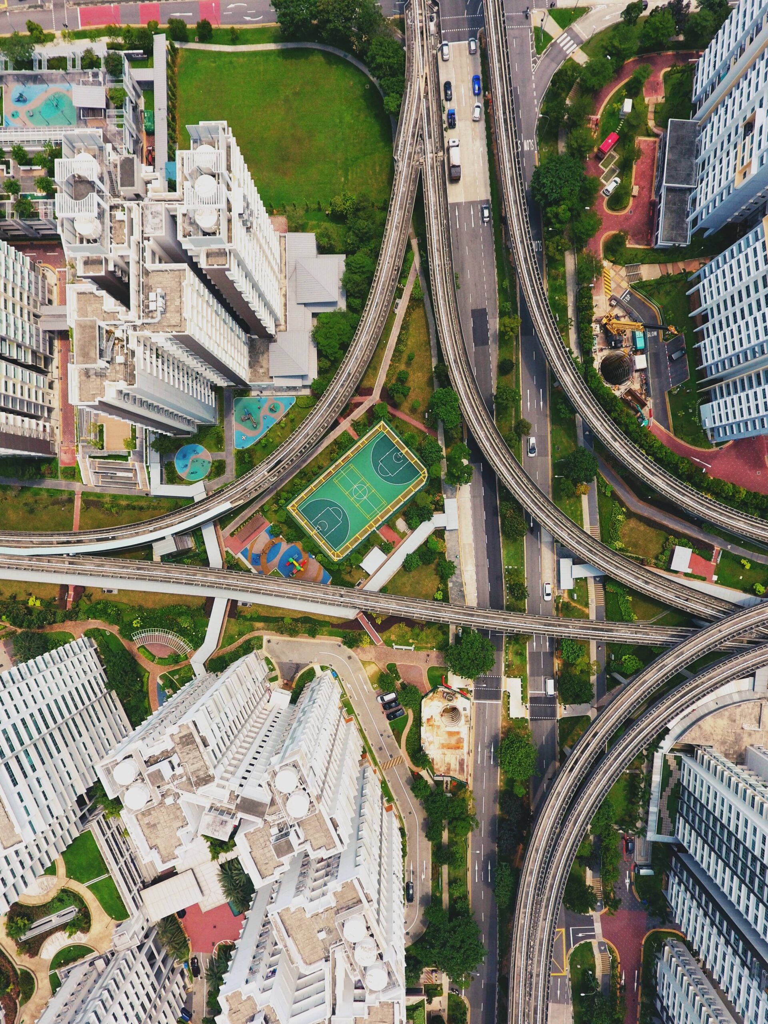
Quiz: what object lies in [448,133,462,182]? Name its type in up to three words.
vehicle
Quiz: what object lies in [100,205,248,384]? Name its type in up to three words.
building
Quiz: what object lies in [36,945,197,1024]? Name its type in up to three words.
building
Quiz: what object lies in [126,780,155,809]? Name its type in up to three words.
water tank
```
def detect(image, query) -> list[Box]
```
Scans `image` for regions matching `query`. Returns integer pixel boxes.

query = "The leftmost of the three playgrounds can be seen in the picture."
[174,444,211,481]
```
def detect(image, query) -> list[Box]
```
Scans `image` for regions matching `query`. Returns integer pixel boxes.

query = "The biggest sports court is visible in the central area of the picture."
[283,418,427,565]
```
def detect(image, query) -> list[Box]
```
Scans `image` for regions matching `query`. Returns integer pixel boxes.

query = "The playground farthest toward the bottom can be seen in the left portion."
[240,523,332,584]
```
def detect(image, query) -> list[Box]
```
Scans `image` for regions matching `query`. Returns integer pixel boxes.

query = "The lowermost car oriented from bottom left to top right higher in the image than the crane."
[604,176,621,198]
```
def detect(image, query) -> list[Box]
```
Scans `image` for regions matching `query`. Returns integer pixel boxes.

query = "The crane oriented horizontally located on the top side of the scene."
[593,311,678,350]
